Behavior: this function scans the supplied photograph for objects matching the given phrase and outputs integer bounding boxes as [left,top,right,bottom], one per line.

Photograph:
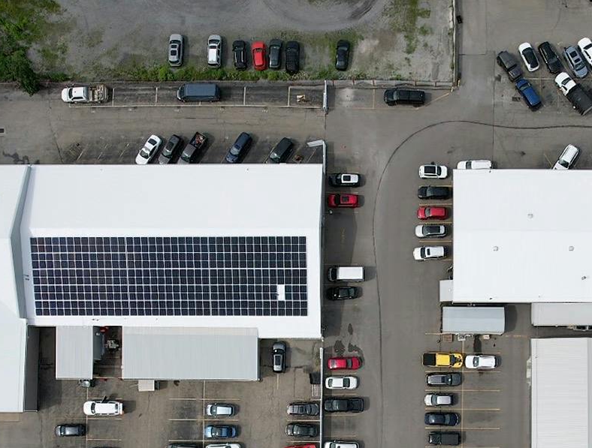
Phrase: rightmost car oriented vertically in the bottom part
[272,341,286,372]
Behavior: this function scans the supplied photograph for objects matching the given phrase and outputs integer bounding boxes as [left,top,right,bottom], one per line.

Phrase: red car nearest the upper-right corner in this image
[417,206,447,221]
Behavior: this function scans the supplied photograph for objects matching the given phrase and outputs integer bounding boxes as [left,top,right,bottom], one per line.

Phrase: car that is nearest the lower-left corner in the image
[56,423,87,437]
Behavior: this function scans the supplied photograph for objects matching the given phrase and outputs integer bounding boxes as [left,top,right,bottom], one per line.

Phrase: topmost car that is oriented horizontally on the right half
[384,88,423,106]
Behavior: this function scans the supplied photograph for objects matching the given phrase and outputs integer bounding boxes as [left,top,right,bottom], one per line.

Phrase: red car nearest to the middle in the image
[327,193,359,208]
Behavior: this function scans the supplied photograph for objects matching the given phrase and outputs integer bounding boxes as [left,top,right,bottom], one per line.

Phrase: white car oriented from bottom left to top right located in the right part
[553,140,581,168]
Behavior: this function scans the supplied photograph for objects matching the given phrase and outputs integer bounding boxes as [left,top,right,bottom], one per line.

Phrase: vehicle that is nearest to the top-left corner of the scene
[64,84,109,102]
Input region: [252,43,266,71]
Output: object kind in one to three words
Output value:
car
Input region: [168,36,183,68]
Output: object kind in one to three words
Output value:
car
